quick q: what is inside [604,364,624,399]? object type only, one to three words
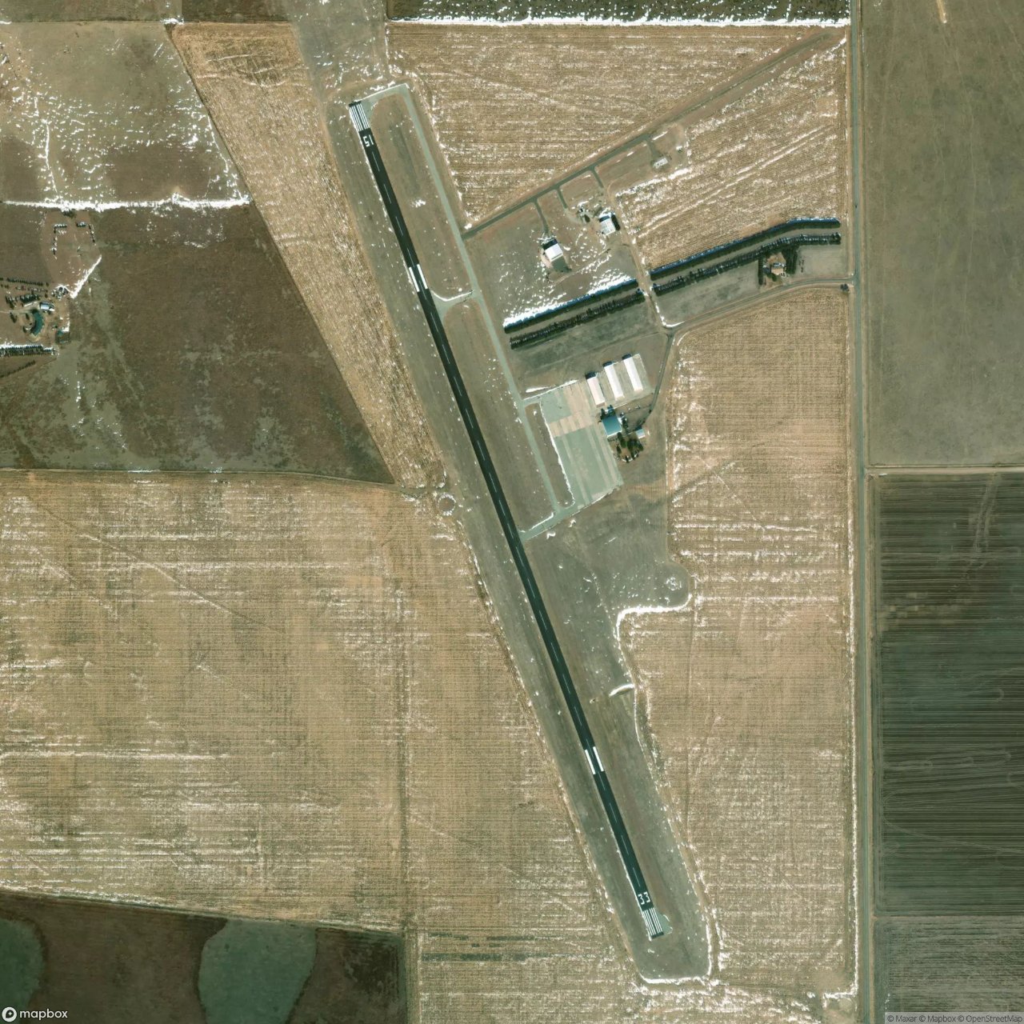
hangar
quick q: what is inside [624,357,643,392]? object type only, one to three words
hangar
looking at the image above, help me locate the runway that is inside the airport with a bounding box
[349,101,664,939]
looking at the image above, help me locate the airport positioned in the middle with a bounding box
[349,83,671,939]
